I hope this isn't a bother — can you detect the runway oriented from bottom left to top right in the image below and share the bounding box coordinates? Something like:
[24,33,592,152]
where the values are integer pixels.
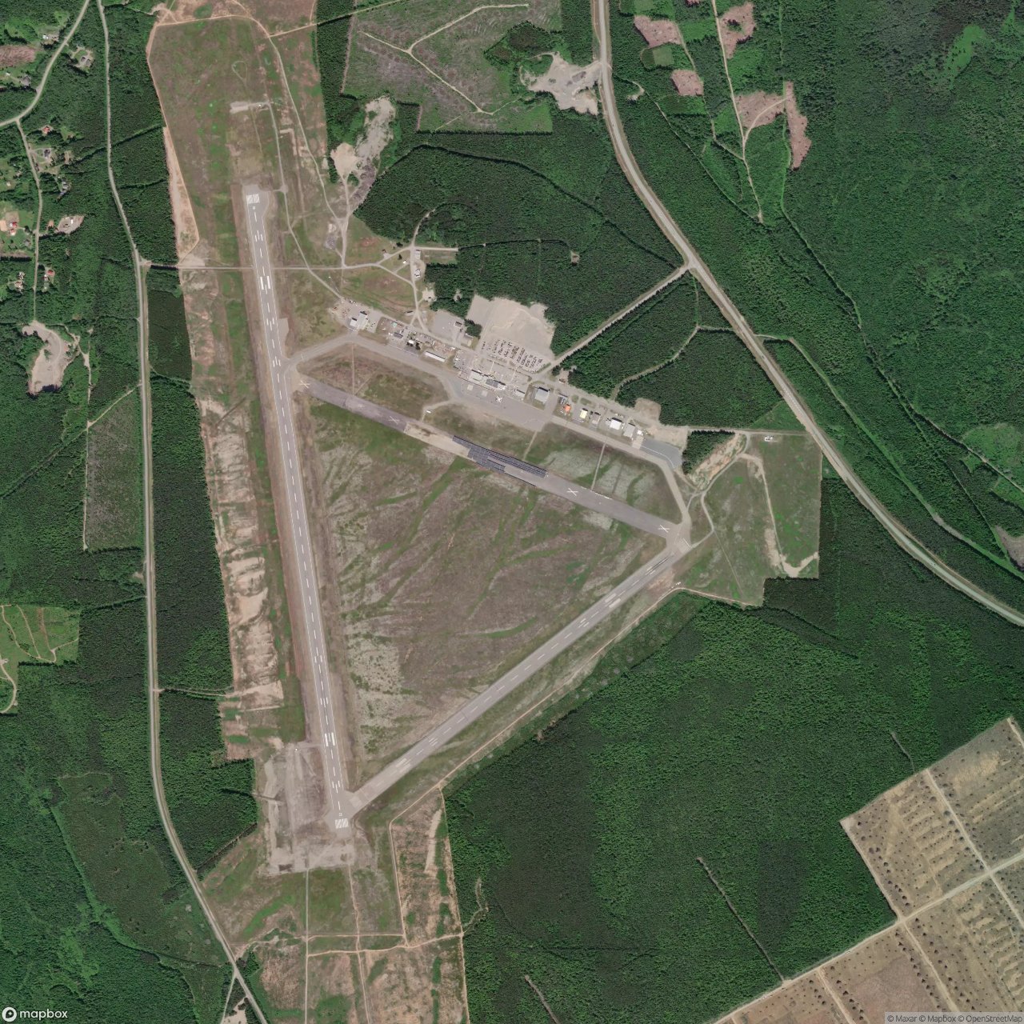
[352,538,690,810]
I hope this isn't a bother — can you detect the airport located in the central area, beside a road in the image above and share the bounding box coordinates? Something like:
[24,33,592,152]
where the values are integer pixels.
[243,185,693,838]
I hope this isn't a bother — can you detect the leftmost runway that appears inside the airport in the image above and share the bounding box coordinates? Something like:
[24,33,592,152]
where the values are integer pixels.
[243,185,358,838]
